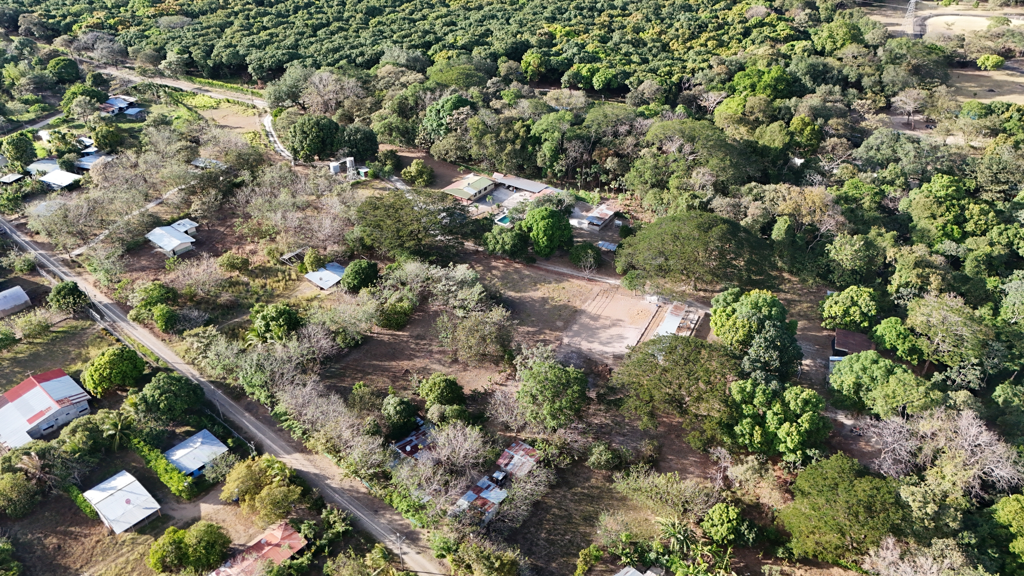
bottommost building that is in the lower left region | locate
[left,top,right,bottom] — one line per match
[214,522,307,576]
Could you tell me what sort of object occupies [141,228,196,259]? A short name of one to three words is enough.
house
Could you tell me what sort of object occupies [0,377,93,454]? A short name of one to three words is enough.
building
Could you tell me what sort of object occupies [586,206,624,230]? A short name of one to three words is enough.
shed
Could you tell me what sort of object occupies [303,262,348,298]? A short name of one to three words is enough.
shed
